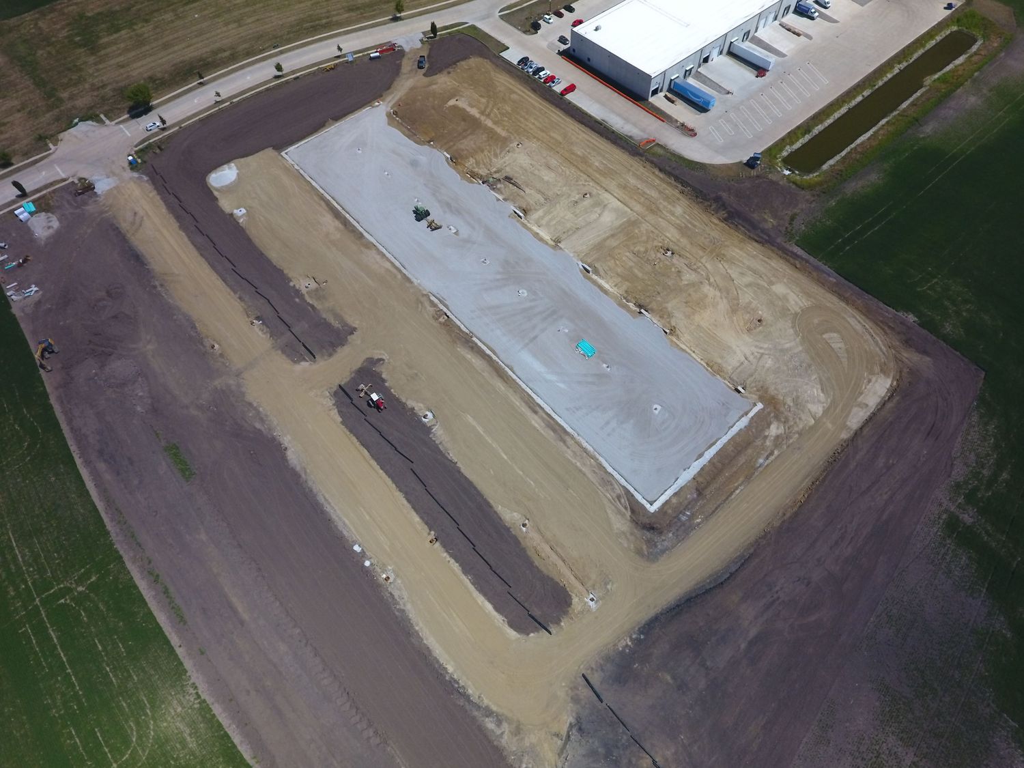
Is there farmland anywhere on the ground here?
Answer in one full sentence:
Yes, farmland shows up in the scene.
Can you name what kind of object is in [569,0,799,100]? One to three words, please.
building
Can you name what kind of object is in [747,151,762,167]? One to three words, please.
vehicle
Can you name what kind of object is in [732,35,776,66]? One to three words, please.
trailer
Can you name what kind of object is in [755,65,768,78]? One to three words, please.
vehicle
